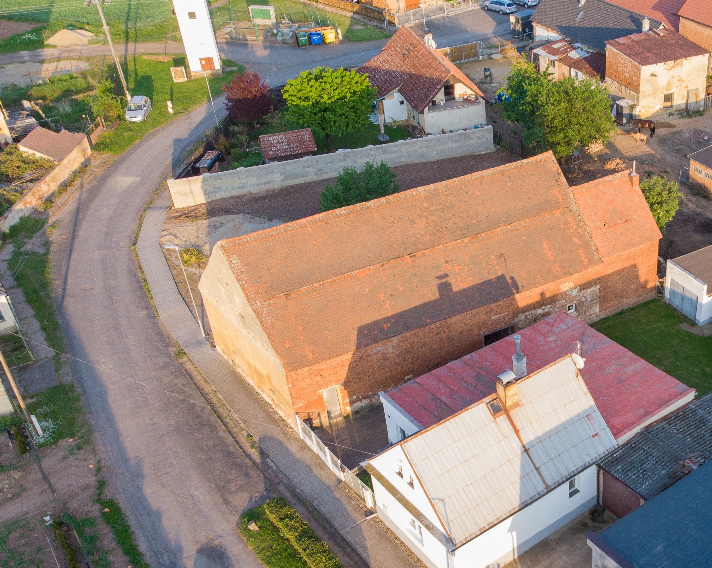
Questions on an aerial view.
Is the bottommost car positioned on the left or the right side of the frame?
left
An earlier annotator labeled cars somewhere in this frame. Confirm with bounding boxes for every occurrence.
[483,0,518,15]
[512,0,538,8]
[121,93,153,121]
